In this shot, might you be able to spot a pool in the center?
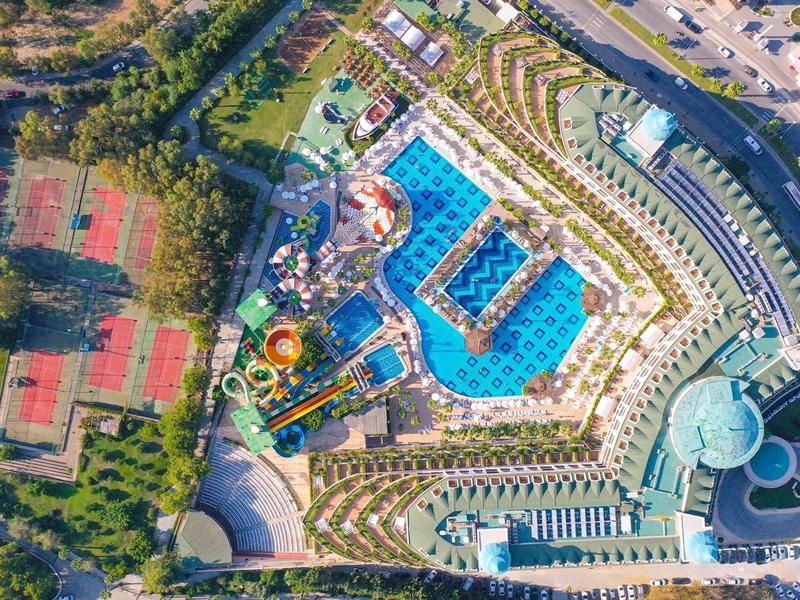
Yes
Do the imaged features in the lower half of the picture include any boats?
No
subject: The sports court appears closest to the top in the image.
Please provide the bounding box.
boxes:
[280,17,330,71]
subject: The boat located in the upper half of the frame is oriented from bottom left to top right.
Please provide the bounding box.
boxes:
[355,88,399,140]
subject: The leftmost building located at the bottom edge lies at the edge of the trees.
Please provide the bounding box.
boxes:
[176,511,234,571]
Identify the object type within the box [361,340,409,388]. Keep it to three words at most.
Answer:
swimming pool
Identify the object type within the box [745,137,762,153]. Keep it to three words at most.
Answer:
vehicle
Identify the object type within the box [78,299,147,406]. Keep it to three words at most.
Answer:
tennis court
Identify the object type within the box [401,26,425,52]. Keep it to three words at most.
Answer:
tent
